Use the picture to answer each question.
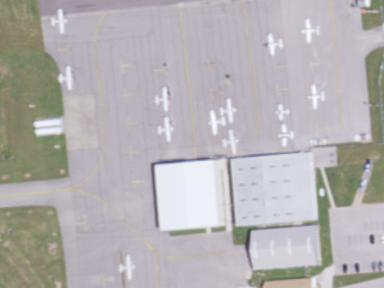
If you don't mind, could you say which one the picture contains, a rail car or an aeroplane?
aeroplane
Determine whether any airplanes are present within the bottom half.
Yes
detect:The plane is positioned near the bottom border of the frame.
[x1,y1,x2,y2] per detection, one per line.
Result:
[117,254,137,280]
